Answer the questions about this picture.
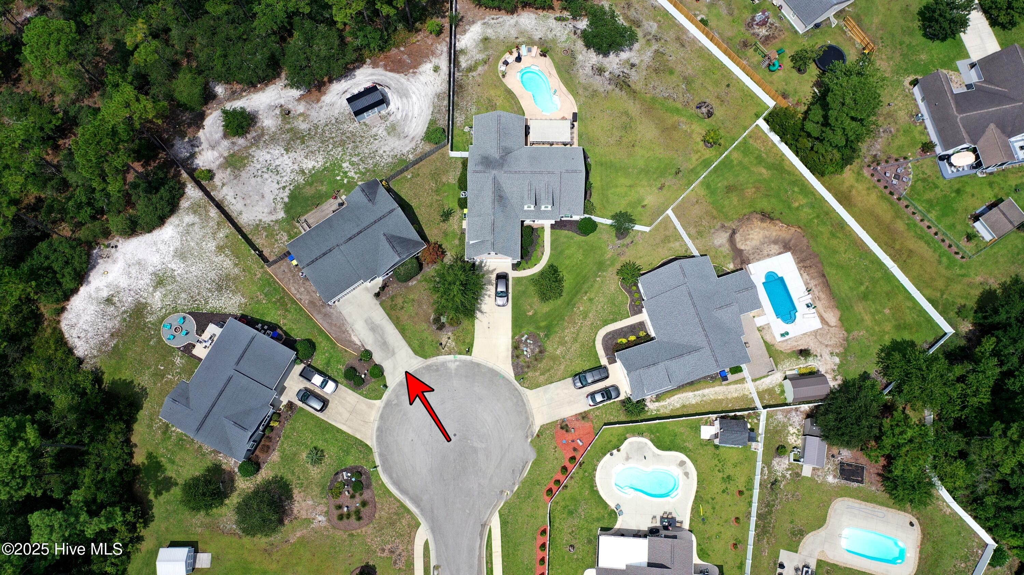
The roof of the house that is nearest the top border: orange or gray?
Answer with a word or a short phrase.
gray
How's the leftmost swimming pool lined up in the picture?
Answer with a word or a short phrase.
diagonally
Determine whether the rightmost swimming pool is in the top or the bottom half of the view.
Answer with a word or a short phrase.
bottom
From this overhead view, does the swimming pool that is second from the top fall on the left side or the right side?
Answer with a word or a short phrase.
right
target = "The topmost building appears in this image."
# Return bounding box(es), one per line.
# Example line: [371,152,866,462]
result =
[777,0,862,34]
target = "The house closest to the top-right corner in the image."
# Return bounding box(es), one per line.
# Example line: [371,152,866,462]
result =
[909,43,1024,172]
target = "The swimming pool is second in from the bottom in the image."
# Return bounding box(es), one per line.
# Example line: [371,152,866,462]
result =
[612,464,682,501]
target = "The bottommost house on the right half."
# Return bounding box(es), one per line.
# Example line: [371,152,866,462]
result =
[592,534,693,575]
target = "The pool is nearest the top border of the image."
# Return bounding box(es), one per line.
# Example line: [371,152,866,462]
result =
[517,64,560,114]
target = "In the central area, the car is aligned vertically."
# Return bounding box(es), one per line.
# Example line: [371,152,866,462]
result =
[494,272,510,306]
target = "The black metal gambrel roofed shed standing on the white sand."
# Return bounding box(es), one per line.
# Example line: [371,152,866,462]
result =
[346,84,385,121]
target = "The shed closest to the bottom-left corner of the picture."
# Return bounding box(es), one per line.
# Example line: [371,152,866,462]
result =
[156,547,194,575]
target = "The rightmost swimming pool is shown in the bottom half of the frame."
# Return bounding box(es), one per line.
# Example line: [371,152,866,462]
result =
[840,527,908,566]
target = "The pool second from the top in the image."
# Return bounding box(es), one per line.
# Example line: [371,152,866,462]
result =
[762,270,798,324]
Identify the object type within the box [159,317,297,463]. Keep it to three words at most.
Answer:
house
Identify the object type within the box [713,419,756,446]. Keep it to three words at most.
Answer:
shed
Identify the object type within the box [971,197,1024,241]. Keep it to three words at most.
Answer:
shed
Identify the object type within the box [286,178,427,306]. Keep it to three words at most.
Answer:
house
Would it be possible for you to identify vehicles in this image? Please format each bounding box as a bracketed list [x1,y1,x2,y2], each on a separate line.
[573,364,610,386]
[587,385,621,407]
[294,386,331,414]
[494,272,510,306]
[296,363,340,395]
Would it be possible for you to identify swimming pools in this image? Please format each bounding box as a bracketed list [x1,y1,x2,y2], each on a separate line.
[762,270,798,324]
[840,527,908,566]
[612,464,682,501]
[517,64,560,114]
